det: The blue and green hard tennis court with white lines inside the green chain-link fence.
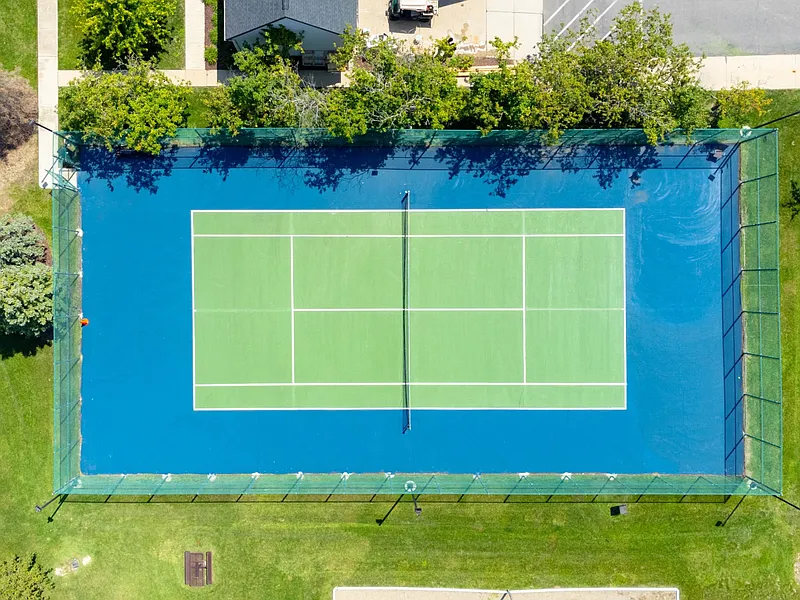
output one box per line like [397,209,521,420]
[77,143,749,477]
